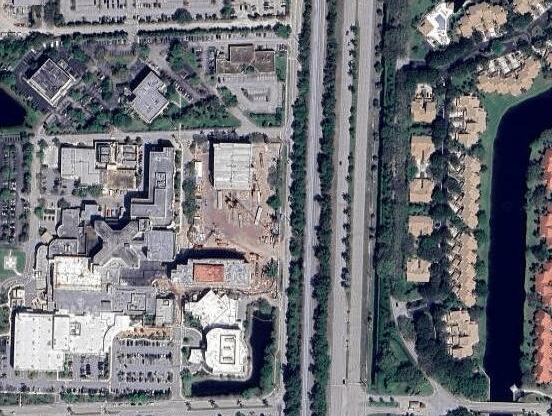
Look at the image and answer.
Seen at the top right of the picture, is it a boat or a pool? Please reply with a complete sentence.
Looking at the top right of the picture, you will find a pool.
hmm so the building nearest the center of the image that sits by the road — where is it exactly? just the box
[213,144,251,190]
